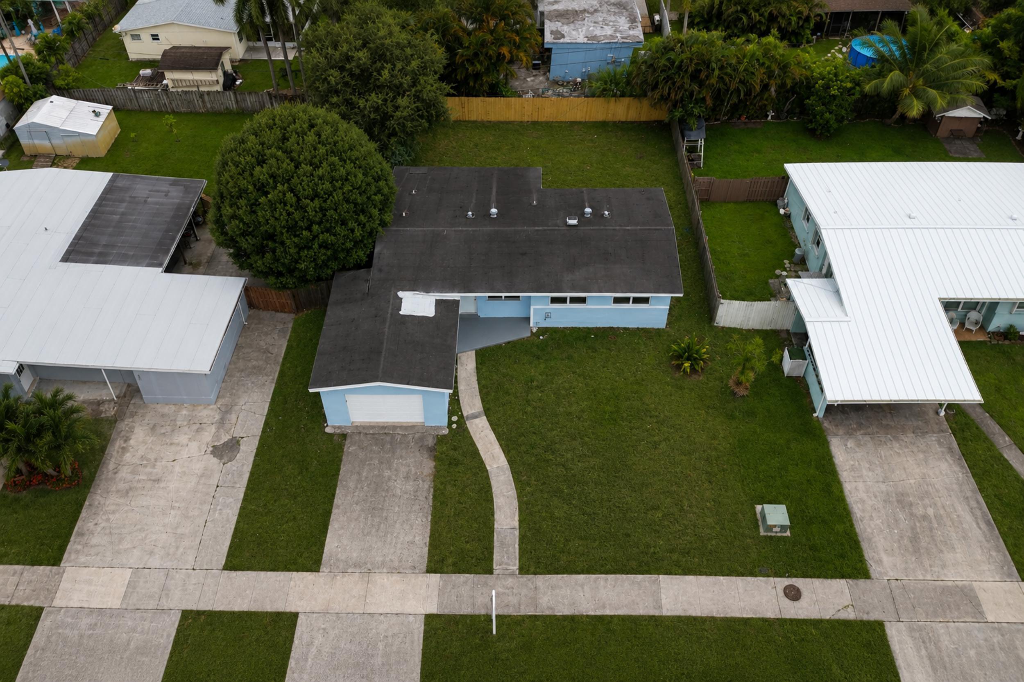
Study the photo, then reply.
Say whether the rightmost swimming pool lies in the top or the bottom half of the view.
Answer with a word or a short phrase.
top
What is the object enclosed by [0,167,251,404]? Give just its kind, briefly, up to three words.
house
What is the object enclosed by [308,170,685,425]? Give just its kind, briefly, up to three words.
house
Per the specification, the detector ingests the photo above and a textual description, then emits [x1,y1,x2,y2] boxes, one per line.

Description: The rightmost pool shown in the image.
[846,32,908,73]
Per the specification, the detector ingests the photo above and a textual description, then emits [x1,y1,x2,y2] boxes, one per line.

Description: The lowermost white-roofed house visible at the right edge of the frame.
[782,163,1024,418]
